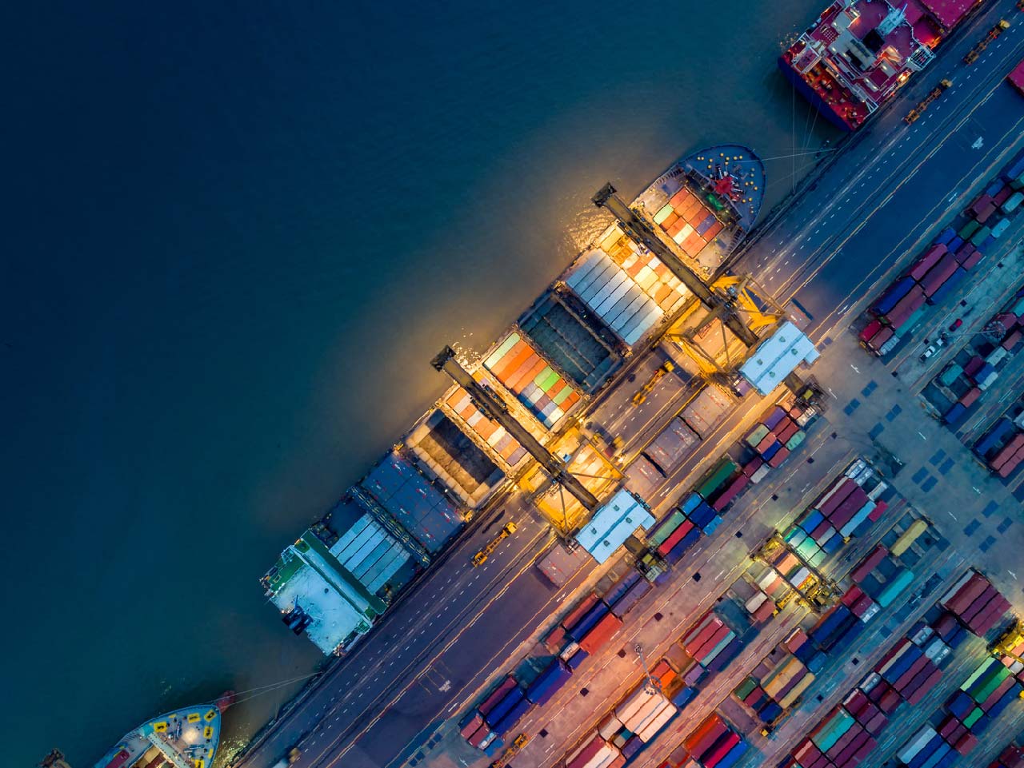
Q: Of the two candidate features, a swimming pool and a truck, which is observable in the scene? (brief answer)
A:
truck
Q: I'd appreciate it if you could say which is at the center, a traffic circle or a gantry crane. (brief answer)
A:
gantry crane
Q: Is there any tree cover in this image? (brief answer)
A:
No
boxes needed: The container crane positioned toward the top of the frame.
[590,178,832,418]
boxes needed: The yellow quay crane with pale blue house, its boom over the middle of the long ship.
[428,343,671,582]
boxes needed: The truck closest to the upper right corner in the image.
[966,18,1011,62]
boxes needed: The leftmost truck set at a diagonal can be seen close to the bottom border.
[281,744,302,766]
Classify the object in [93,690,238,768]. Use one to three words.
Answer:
ship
